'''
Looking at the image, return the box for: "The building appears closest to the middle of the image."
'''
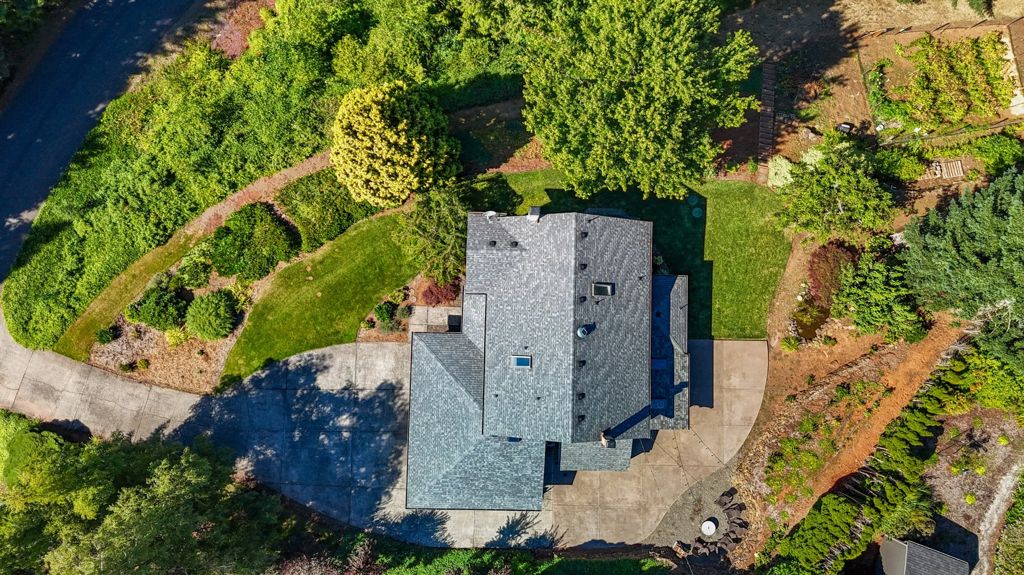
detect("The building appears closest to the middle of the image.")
[404,208,691,512]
